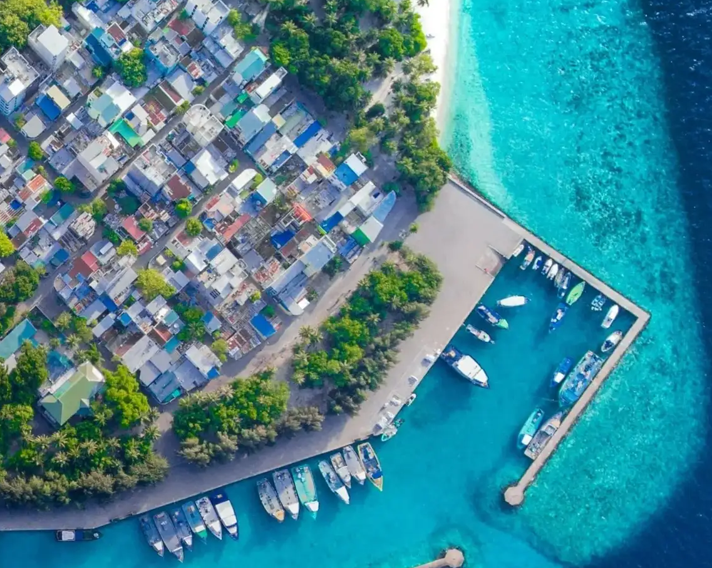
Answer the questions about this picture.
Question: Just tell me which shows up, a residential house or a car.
residential house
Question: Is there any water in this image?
Yes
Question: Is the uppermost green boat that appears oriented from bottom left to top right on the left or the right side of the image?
right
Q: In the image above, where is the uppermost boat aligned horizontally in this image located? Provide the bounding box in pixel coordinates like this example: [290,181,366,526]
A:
[495,295,532,308]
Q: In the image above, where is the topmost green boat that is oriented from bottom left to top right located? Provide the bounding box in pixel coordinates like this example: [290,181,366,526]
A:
[565,281,588,308]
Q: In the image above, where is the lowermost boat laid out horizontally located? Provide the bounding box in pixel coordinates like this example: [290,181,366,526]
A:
[56,529,102,542]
